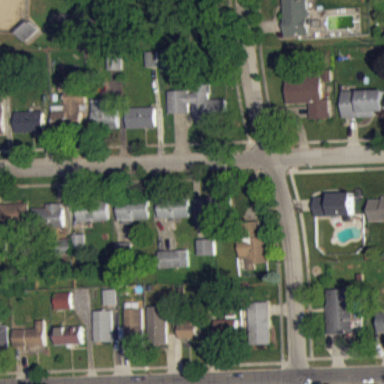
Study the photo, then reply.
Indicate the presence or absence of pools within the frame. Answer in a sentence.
Yes, the image includes a pool.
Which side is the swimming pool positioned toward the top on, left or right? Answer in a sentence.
The swimming pool positioned toward the top sits on the right side.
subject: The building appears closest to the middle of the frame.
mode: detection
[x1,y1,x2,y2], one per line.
[154,200,190,224]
